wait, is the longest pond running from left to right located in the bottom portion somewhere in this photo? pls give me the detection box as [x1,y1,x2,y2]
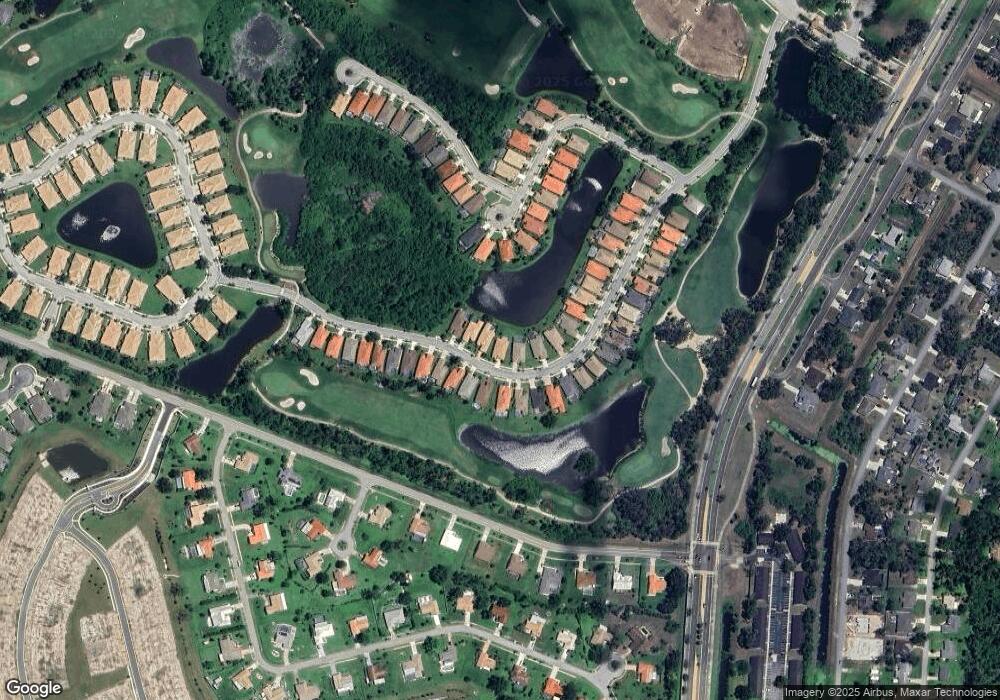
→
[459,384,648,490]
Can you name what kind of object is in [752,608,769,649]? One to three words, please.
building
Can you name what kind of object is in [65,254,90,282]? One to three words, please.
house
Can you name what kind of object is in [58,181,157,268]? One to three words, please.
pond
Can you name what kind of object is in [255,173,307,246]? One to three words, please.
pond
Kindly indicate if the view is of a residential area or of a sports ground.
residential area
